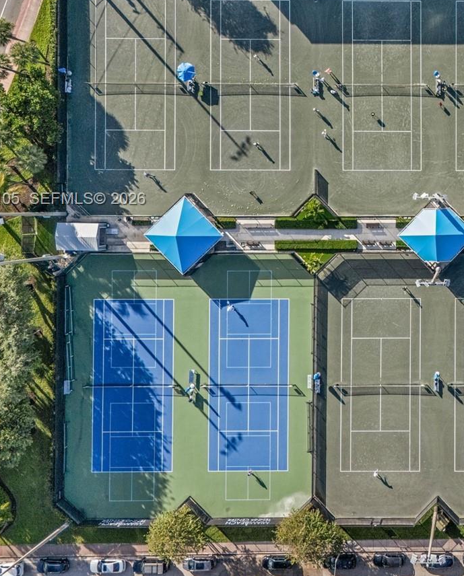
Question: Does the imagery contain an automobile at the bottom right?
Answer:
Yes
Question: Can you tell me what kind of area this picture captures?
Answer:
sports ground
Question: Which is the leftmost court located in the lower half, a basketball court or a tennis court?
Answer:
tennis court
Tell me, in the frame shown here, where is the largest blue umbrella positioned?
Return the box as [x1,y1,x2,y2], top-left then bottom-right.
[176,62,197,82]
